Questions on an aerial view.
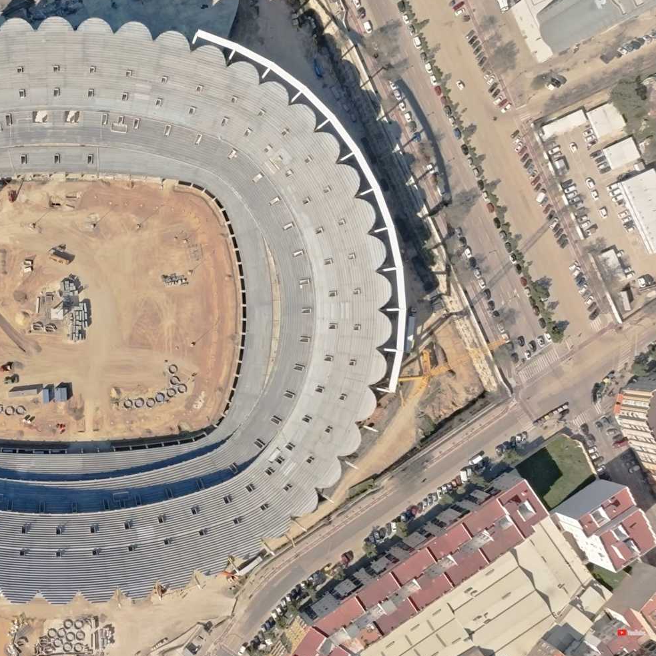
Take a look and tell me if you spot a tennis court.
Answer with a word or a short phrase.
No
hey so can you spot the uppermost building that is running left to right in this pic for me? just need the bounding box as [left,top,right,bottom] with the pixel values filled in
[526,0,656,57]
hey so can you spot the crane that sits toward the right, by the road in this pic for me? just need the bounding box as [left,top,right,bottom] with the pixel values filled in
[399,337,510,381]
